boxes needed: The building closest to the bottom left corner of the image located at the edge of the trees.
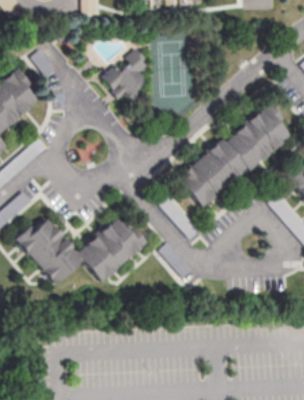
[17,219,80,285]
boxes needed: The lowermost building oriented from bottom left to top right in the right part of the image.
[180,108,294,207]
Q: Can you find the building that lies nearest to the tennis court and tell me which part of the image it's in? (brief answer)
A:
top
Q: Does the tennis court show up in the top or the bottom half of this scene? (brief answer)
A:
top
